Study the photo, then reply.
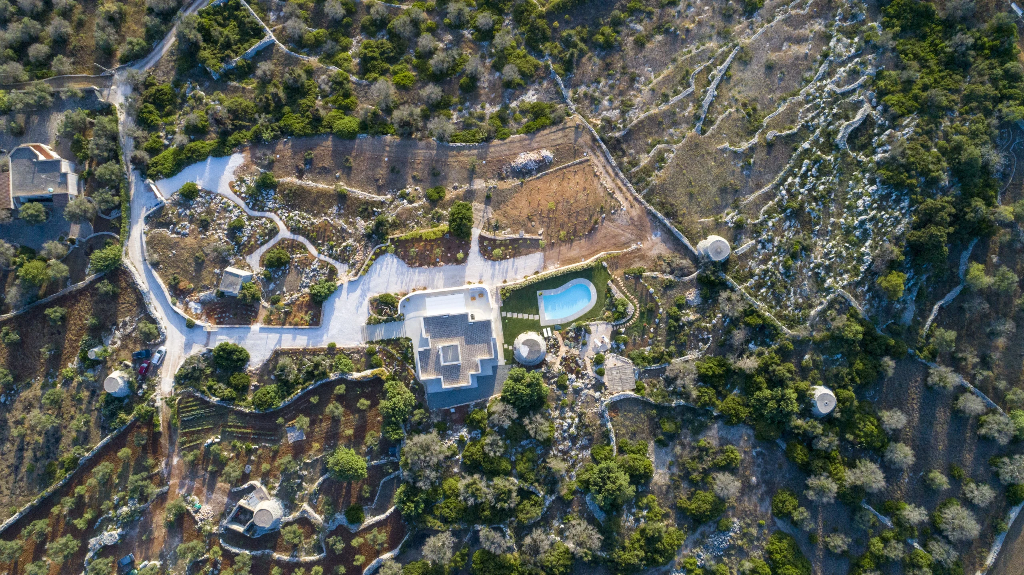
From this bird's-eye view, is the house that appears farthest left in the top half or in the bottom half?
top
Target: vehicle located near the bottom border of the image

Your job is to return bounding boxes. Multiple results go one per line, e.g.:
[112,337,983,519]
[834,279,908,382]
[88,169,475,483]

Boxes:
[116,551,137,567]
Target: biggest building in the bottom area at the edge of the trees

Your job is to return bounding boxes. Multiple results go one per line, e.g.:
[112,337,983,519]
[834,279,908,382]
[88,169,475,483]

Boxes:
[418,312,499,388]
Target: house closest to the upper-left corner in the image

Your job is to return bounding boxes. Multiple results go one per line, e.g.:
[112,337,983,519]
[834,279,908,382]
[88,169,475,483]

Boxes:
[0,143,87,210]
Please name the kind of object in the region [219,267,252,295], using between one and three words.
shed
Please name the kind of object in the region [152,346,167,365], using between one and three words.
car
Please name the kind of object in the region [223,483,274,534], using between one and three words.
building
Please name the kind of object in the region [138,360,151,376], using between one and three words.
vehicle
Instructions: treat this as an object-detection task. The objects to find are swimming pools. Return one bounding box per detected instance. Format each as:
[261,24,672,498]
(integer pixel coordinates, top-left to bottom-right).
[537,278,597,326]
